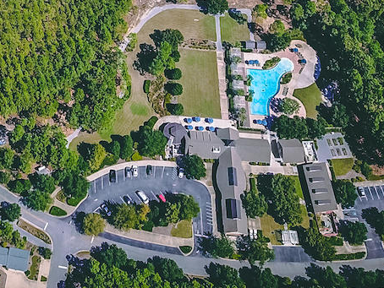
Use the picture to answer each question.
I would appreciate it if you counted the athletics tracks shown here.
none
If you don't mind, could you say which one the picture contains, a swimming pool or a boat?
swimming pool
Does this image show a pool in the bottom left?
No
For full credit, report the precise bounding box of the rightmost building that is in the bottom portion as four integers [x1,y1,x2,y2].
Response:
[302,161,338,215]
